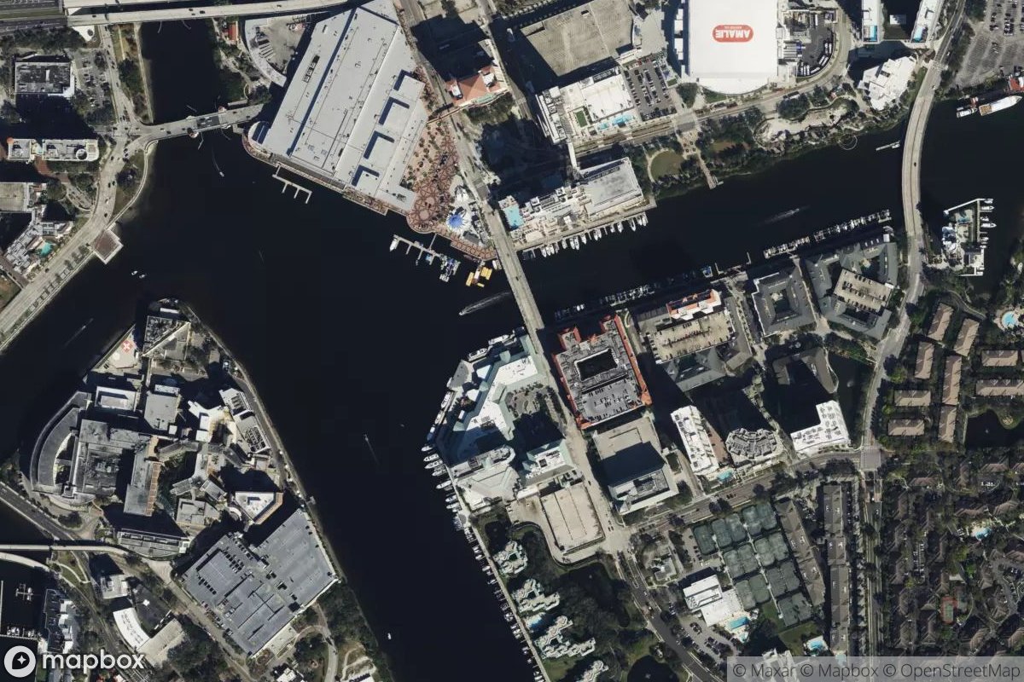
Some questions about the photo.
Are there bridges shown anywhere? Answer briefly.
Yes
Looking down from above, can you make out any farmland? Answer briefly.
No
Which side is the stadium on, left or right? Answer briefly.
right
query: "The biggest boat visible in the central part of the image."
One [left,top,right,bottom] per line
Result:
[458,294,511,315]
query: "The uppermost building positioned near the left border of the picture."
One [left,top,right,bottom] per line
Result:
[15,62,75,98]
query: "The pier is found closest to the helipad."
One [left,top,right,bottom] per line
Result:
[92,229,123,264]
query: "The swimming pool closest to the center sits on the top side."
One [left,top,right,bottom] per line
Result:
[504,205,523,229]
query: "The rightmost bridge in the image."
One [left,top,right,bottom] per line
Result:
[901,99,930,236]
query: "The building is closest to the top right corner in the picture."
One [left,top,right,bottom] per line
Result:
[910,0,949,47]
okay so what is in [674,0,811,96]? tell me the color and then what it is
white stadium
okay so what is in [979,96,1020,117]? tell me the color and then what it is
white ship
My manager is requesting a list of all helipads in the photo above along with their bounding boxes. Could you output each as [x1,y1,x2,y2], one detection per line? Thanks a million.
[105,329,141,369]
